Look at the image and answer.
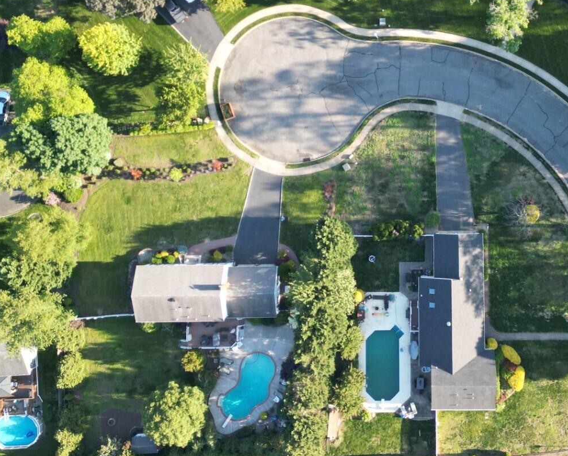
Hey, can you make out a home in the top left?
No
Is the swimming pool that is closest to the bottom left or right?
left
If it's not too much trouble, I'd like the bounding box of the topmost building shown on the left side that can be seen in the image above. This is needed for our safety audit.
[131,256,280,350]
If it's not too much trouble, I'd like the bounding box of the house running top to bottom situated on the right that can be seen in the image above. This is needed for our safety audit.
[411,233,496,411]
